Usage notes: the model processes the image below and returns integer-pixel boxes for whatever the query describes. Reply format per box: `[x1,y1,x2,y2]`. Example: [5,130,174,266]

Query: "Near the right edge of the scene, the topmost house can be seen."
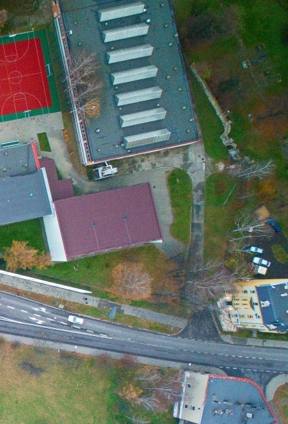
[205,277,288,330]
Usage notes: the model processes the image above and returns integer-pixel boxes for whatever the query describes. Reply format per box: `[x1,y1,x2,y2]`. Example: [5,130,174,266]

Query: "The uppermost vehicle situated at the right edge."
[270,218,284,233]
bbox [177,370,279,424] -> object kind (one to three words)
building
